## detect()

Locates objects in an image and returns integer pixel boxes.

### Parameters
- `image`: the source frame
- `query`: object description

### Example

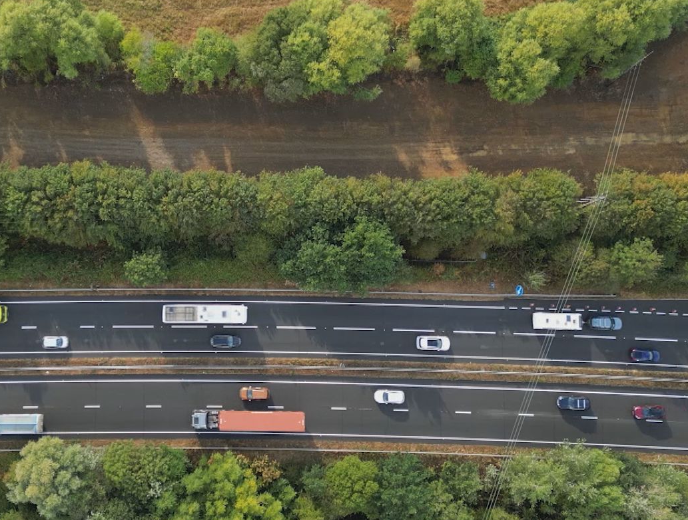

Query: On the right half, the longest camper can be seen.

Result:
[529,312,585,330]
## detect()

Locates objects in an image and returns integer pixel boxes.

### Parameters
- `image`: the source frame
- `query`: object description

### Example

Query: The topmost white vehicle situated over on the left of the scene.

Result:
[162,304,247,326]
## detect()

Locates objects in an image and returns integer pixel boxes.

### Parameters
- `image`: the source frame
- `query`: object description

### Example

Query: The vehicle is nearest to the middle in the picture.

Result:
[415,336,450,352]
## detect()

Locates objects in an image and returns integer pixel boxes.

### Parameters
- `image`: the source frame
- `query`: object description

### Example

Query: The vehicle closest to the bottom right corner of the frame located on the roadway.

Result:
[630,404,665,420]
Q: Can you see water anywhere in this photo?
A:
No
